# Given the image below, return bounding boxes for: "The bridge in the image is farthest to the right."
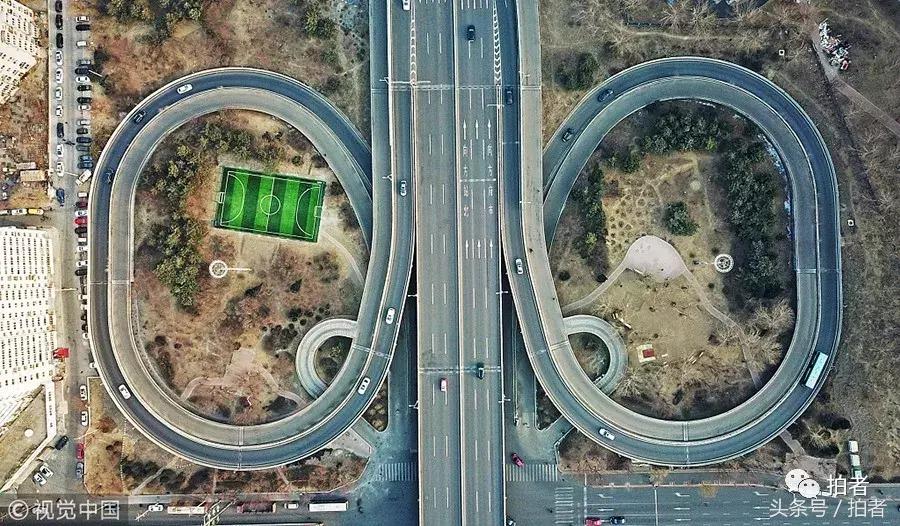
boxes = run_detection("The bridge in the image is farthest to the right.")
[516,0,819,443]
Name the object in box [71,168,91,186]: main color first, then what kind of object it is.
white vehicle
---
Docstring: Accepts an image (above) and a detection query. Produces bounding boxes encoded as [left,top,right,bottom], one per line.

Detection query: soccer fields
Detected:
[214,166,326,242]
